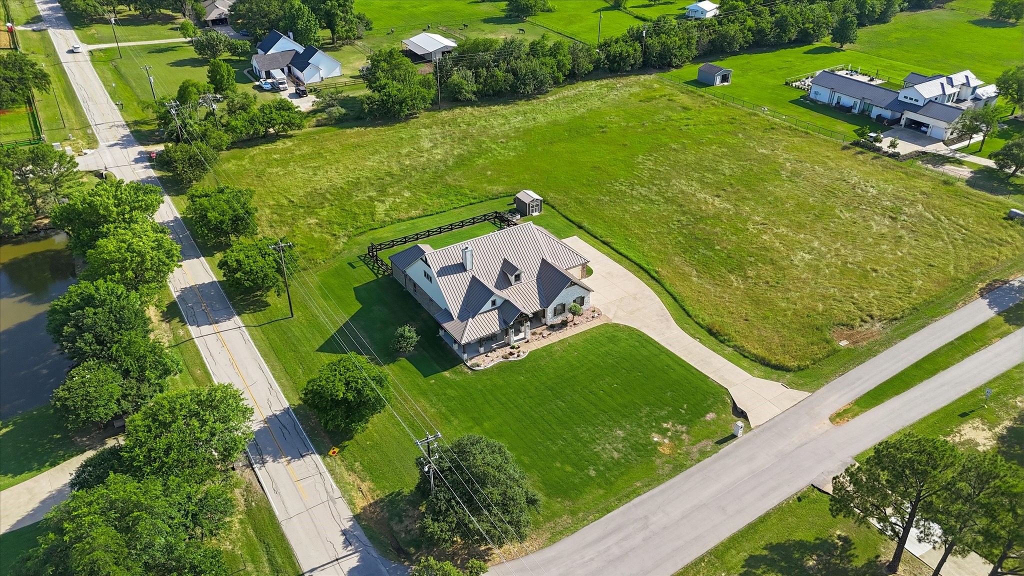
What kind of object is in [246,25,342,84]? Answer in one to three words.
house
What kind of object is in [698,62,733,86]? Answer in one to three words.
shed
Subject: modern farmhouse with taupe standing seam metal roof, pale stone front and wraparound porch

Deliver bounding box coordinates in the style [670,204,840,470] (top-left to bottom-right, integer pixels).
[388,222,597,360]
